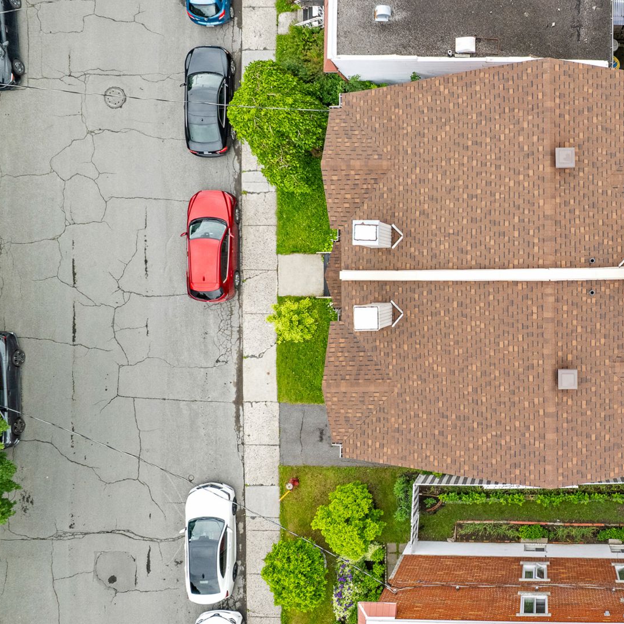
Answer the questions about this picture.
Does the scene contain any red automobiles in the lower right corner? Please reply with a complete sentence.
No, the scene shows no red automobile in the lower right corner.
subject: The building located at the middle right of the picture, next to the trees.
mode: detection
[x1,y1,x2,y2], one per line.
[314,57,624,491]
